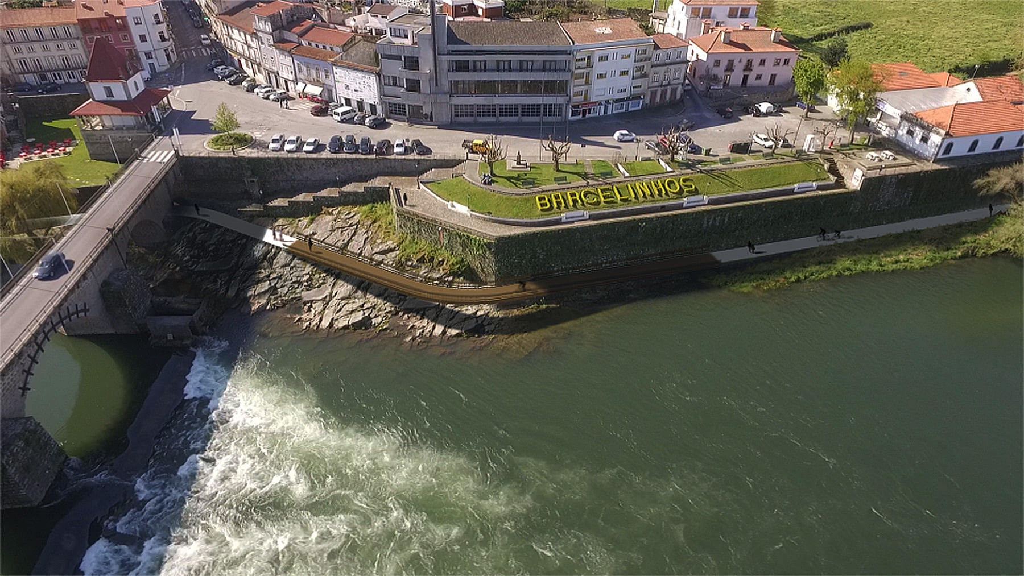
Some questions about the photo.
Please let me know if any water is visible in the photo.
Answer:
Yes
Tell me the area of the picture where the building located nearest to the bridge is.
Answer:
top left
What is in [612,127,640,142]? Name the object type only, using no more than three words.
car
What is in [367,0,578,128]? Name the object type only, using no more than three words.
building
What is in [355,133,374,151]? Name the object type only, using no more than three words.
car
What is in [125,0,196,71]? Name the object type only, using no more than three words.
house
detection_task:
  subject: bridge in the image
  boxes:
[0,139,192,546]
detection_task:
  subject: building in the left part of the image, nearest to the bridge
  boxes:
[68,37,171,160]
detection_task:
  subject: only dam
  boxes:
[40,344,200,576]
